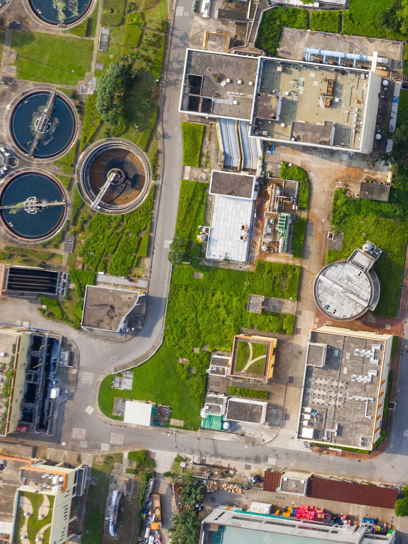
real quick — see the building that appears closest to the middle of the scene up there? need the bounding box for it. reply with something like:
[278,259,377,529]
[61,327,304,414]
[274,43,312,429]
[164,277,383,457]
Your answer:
[206,195,260,263]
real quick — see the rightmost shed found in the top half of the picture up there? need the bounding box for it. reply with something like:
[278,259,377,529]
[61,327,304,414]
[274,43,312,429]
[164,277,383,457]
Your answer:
[359,182,392,201]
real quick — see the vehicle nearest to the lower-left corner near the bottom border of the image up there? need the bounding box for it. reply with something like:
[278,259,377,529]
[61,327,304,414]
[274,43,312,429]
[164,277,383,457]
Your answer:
[150,491,163,530]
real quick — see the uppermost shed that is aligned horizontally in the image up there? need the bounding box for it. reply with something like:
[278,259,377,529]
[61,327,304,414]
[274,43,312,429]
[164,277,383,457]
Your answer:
[217,9,250,24]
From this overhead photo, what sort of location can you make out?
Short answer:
industrial area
